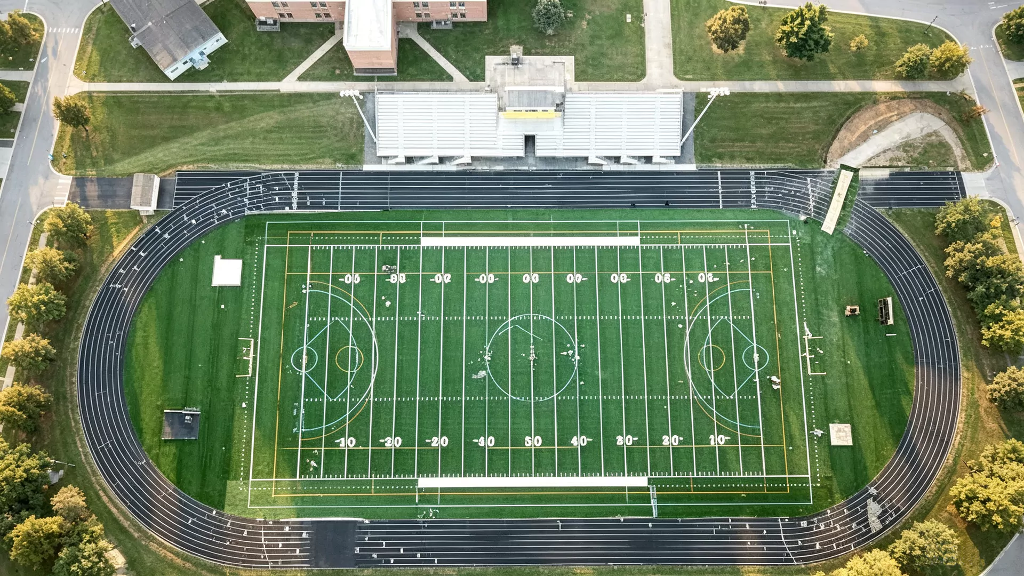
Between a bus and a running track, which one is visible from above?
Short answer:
running track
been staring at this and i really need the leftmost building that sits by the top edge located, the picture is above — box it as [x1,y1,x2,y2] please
[105,0,228,80]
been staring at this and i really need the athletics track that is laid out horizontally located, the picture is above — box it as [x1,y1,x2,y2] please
[75,171,959,567]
